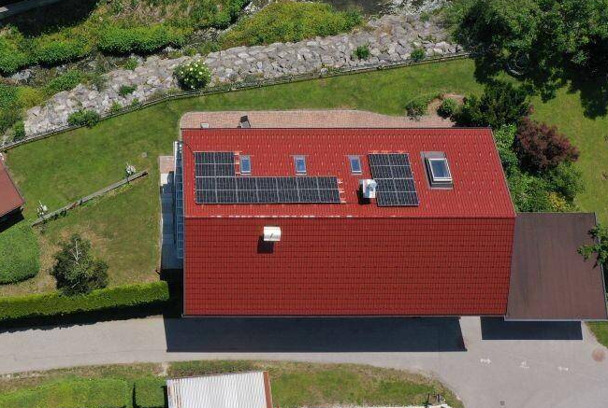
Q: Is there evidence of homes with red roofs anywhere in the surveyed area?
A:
Yes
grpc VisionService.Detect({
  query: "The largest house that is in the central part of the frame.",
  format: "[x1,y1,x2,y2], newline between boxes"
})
[182,127,516,317]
